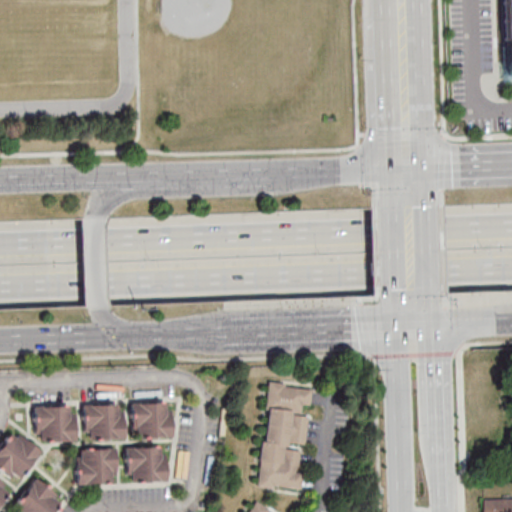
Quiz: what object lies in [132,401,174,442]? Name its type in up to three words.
house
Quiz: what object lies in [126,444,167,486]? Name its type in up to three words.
house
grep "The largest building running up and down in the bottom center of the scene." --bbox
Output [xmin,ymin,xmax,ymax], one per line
[262,383,314,492]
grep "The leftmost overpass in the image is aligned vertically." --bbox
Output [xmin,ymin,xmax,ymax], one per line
[83,218,112,306]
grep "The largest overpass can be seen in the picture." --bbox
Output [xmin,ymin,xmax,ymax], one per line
[372,204,447,296]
